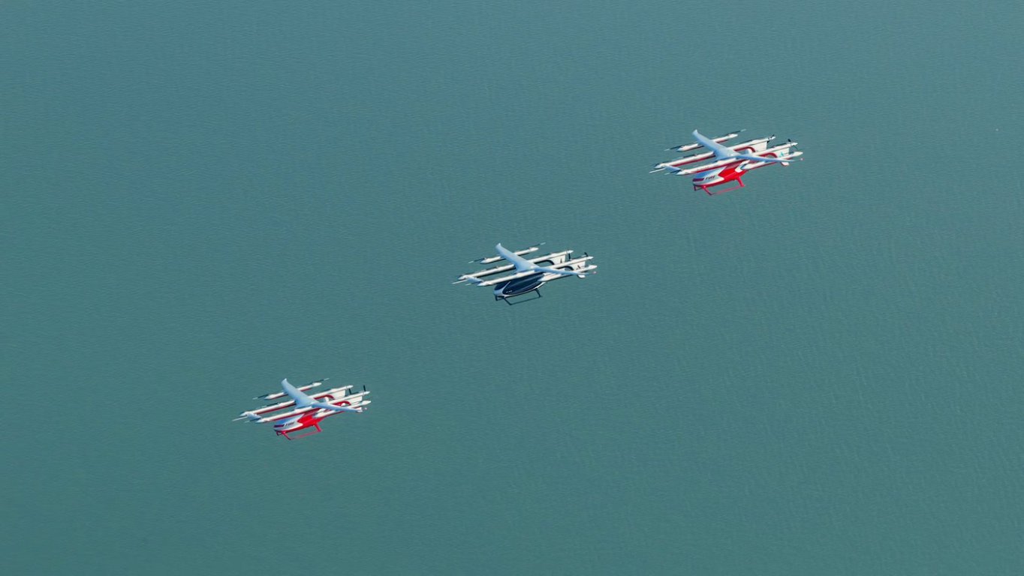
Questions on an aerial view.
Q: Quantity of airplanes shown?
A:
three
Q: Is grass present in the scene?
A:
No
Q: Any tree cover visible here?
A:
No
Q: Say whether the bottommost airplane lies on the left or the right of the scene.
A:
left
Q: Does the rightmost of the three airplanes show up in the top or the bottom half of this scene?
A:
top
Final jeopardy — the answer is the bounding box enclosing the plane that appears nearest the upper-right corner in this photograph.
[645,129,809,196]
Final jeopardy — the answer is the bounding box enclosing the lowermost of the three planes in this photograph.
[228,378,379,440]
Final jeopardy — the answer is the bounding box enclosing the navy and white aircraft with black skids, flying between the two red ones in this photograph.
[447,243,604,306]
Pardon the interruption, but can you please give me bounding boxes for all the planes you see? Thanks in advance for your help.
[228,378,379,440]
[645,129,809,196]
[447,243,604,306]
